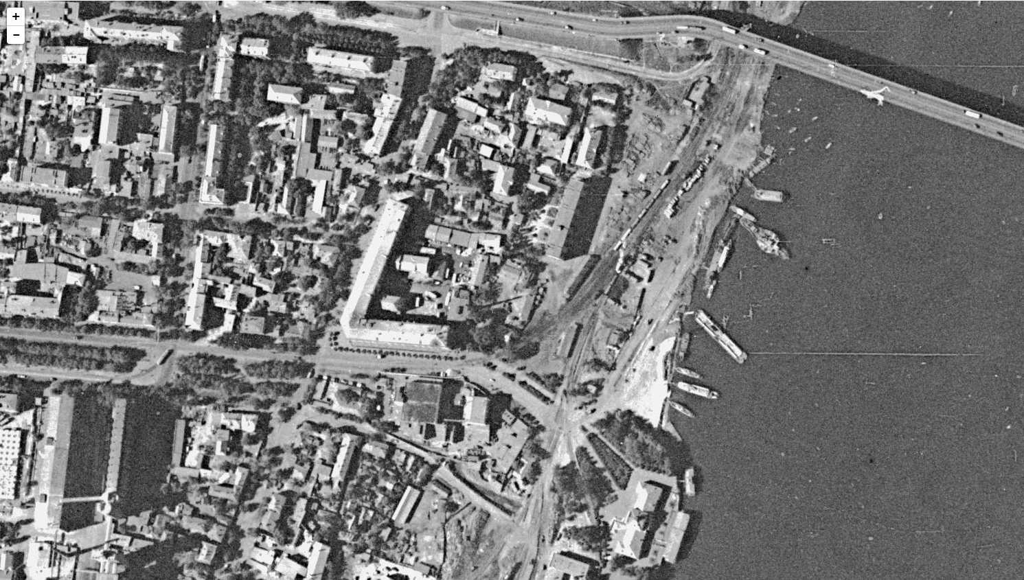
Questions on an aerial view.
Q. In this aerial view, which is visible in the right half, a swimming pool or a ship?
ship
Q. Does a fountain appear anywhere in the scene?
No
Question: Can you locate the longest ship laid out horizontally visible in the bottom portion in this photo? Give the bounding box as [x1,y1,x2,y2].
[677,383,719,399]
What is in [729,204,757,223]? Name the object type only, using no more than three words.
boat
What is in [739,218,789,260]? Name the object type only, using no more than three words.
ship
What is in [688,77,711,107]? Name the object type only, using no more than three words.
house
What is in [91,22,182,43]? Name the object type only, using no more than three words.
building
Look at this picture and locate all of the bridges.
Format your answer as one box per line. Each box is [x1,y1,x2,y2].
[719,24,1024,149]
